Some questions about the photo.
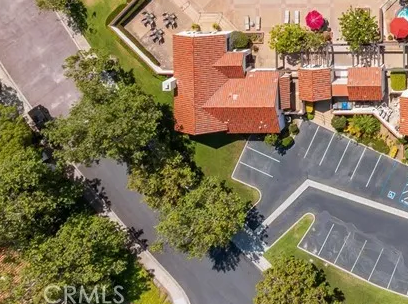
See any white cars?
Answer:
No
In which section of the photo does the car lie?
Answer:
left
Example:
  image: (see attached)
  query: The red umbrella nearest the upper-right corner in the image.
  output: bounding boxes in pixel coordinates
[391,18,408,37]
